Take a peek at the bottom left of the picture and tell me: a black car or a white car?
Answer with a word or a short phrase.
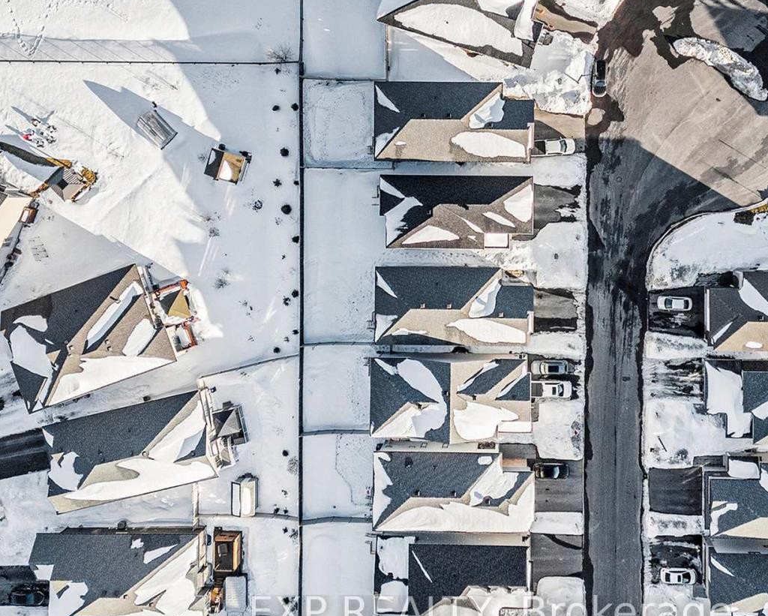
black car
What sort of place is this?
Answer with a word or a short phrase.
residential area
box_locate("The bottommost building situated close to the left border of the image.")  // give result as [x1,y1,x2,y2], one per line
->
[36,526,210,616]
